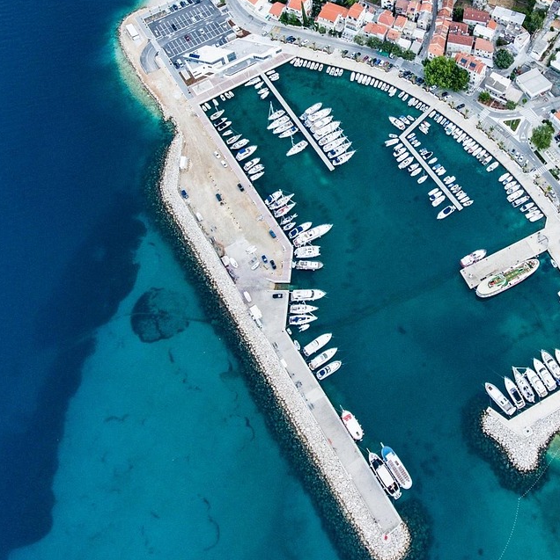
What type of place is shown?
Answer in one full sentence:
It's a port.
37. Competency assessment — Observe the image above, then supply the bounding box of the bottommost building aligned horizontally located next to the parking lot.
[183,40,283,83]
